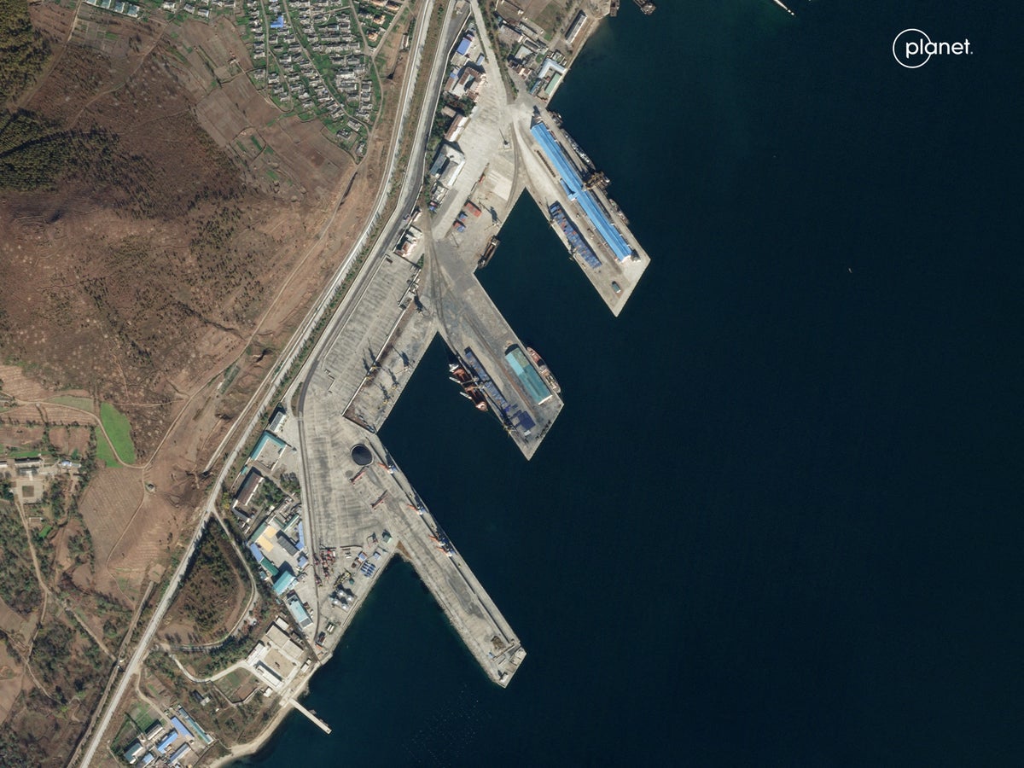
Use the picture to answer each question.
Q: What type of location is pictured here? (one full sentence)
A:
This looks like a port.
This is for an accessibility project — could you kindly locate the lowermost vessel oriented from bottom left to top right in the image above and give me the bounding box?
[479,239,498,268]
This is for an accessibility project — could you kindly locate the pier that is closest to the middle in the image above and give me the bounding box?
[437,273,564,461]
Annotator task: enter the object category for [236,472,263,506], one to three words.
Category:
building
